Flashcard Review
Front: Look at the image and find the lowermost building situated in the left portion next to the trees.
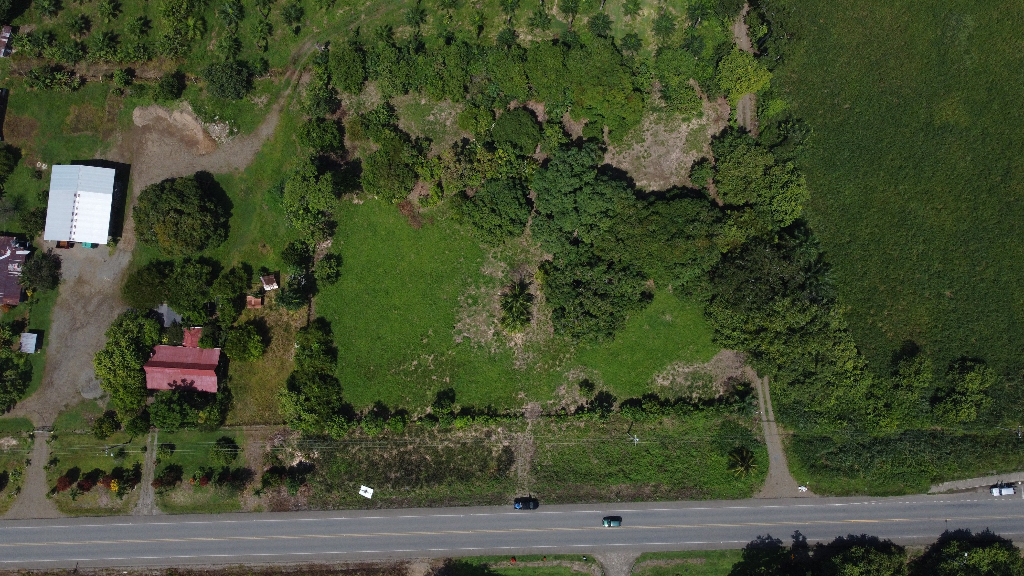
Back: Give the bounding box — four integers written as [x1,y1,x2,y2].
[143,344,223,392]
